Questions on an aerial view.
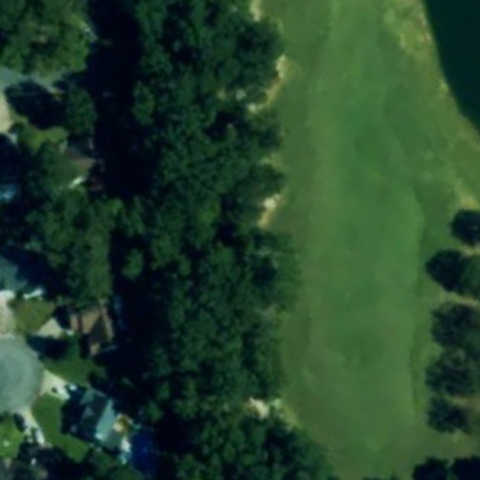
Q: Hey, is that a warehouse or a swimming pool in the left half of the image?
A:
swimming pool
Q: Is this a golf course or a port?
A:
golf course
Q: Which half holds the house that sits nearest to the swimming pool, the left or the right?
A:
left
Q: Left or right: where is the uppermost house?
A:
left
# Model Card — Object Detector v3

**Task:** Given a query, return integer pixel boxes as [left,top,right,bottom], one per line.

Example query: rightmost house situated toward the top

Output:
[61,139,101,185]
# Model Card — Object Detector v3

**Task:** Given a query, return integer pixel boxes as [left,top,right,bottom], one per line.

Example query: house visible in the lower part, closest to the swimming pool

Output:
[61,378,130,450]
